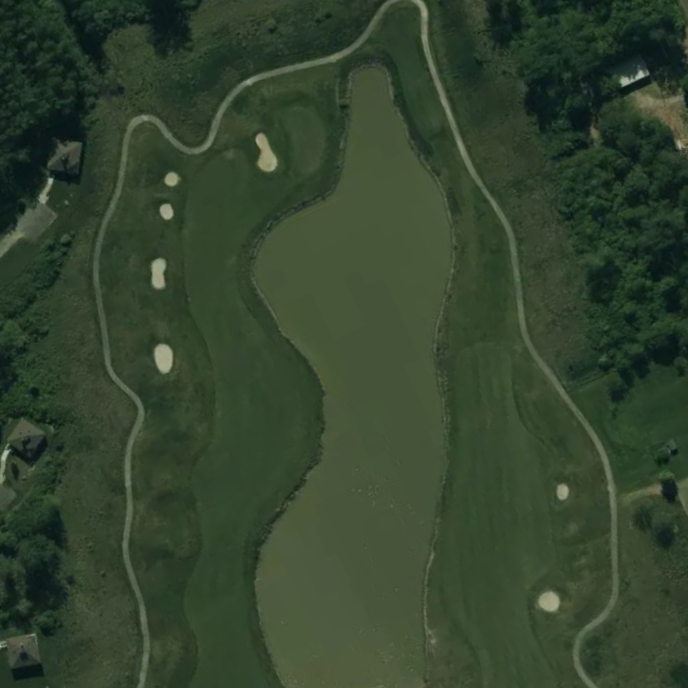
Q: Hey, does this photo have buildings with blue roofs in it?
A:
No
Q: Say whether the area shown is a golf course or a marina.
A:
golf course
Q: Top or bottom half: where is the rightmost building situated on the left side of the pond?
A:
top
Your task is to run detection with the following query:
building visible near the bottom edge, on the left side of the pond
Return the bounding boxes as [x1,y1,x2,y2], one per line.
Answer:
[6,632,41,669]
